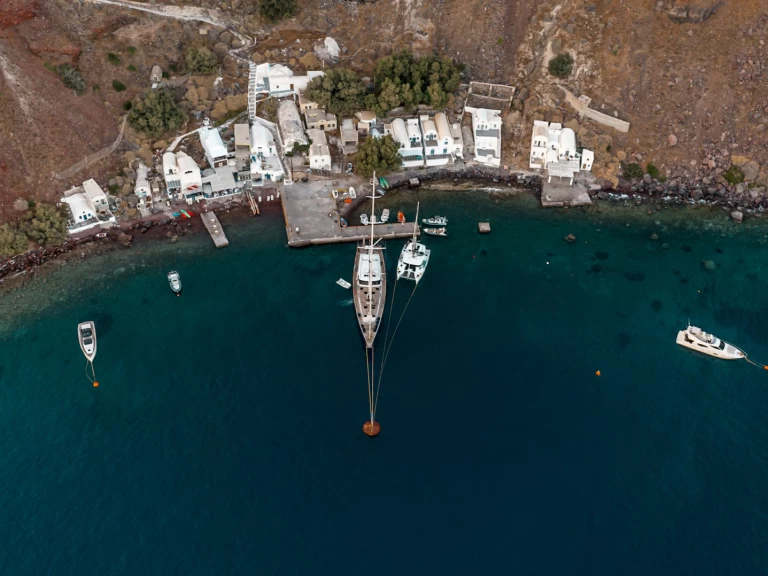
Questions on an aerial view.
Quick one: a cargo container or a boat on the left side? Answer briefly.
boat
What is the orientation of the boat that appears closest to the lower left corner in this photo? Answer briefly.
vertically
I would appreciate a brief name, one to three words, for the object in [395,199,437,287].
boat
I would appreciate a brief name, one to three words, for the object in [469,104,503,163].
house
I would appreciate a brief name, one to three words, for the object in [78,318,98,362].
boat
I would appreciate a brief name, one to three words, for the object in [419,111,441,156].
house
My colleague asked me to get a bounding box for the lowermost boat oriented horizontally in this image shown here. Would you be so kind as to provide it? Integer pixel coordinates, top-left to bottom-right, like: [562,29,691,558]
[674,325,751,358]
